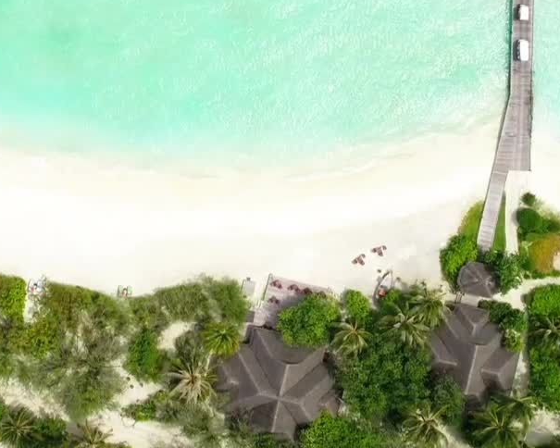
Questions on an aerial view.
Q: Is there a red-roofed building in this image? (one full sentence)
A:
No, the picture doesn't show any red-roofed building.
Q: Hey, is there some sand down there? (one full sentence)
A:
Yes, there is sand in the image.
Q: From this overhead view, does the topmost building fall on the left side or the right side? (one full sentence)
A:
You can find the topmost building on the right side of the picture.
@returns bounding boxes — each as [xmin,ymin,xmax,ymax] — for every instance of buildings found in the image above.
[215,325,341,440]
[458,263,496,298]
[429,303,521,405]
